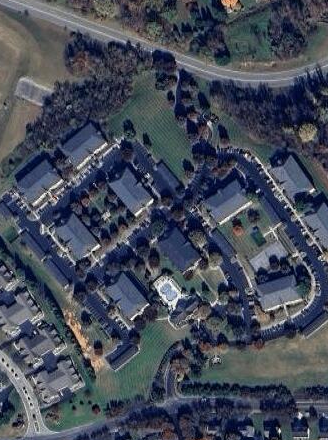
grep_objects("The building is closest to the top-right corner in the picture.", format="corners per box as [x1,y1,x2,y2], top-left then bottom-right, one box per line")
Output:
[271,154,316,204]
